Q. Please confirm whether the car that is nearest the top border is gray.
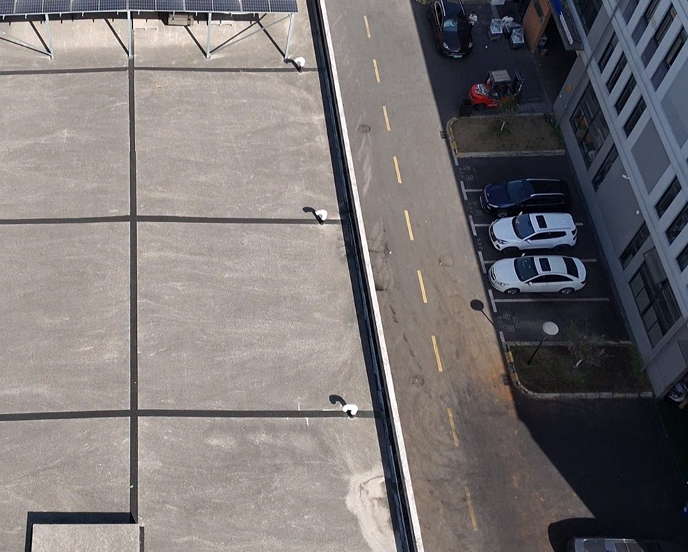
No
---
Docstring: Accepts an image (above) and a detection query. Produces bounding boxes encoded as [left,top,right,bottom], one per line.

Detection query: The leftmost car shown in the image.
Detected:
[430,0,477,54]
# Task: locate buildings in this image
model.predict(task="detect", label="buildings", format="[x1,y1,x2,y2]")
[0,0,424,552]
[514,0,688,491]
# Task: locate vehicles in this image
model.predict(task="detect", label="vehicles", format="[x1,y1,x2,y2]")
[567,528,687,552]
[430,0,477,54]
[492,249,593,294]
[471,68,530,107]
[491,208,583,252]
[478,173,573,216]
